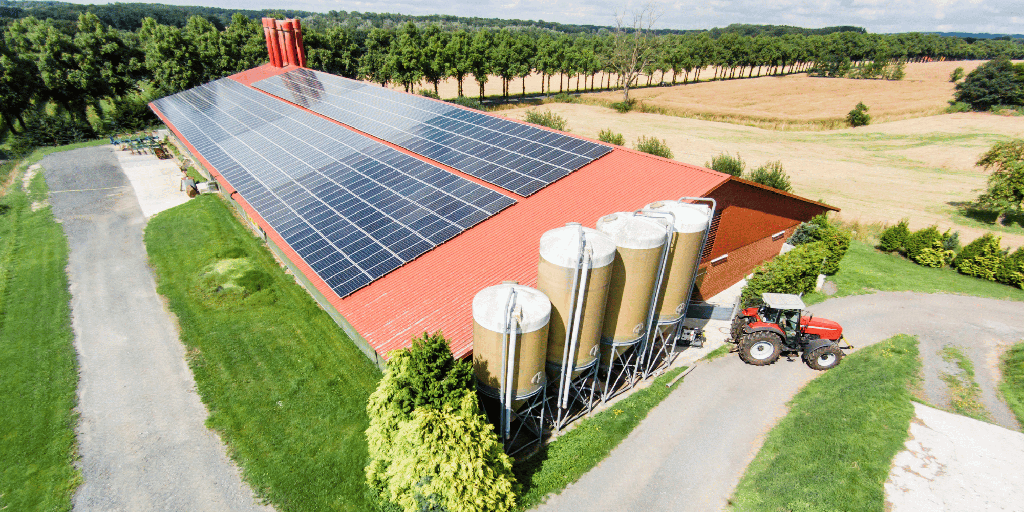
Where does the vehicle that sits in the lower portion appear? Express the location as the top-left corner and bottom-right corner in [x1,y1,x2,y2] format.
[720,294,857,372]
